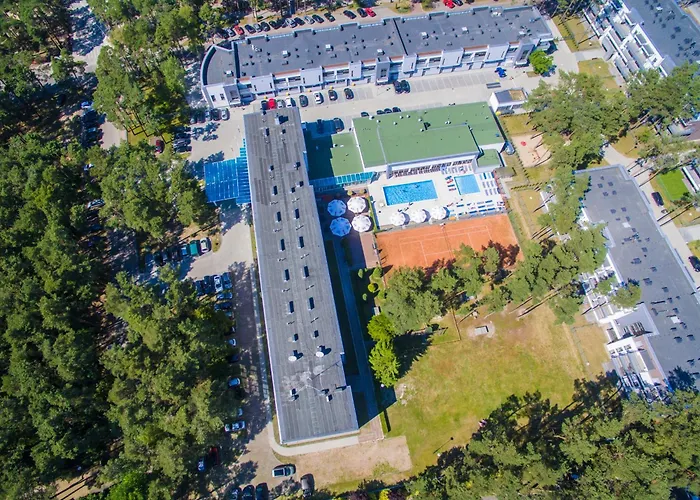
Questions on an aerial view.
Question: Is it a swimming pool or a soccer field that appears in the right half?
swimming pool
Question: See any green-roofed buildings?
Yes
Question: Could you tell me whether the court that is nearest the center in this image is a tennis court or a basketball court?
tennis court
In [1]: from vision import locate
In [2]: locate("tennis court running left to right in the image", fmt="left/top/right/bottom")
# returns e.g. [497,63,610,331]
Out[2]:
[375,213,530,295]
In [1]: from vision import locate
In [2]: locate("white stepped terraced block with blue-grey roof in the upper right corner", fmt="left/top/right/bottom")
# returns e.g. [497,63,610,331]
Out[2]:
[570,0,700,84]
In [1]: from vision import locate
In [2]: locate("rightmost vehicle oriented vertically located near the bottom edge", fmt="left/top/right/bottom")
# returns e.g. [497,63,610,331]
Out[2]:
[300,469,315,499]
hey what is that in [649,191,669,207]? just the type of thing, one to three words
car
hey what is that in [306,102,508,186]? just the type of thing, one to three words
building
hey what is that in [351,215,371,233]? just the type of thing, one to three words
umbrella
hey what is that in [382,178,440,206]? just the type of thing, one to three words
swimming pool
